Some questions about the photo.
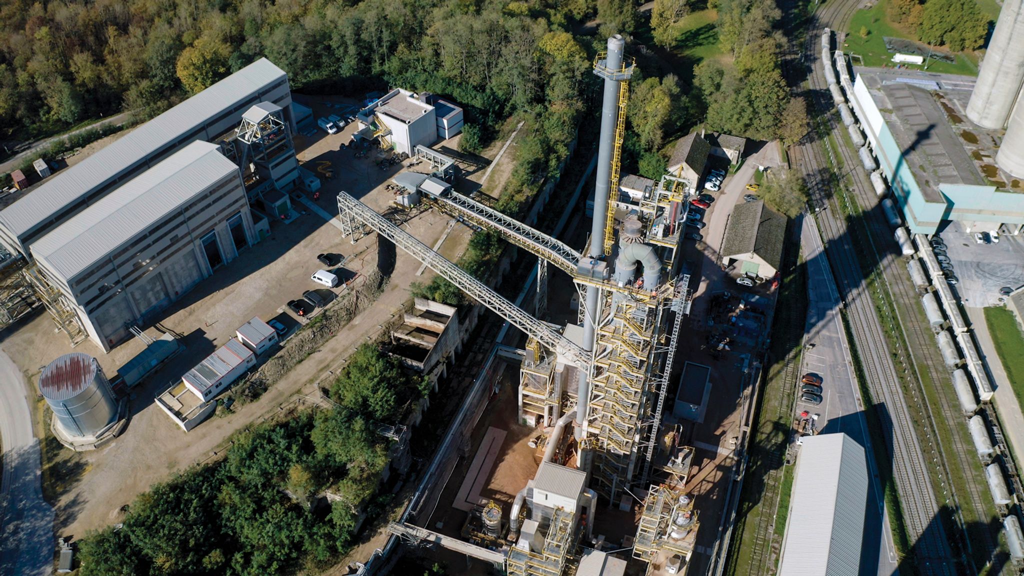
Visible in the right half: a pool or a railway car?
railway car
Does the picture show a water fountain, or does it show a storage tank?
storage tank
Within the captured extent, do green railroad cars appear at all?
No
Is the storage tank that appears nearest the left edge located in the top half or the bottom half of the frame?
bottom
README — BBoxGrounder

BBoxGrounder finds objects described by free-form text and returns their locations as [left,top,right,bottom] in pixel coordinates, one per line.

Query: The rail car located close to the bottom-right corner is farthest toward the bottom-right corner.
[998,510,1024,569]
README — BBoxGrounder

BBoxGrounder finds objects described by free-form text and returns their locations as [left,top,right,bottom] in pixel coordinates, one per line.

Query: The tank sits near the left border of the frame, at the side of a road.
[34,353,127,452]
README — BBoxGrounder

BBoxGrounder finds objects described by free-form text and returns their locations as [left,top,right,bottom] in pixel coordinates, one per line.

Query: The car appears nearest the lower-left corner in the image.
[266,317,287,334]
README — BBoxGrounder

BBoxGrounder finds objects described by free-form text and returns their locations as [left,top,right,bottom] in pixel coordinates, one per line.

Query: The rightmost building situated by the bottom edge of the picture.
[777,432,868,576]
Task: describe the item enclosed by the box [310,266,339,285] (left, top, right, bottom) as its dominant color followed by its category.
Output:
white vehicle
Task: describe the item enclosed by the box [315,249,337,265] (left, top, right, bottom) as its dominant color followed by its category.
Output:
black car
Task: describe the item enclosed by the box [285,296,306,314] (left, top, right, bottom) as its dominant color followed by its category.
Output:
black car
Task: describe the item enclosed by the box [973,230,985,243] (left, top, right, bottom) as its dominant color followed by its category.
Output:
white vehicle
